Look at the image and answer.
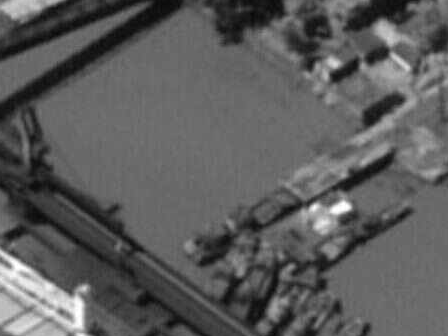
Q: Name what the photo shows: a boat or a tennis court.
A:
boat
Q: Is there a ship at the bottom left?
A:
Yes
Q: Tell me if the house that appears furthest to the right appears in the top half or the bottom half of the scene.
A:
top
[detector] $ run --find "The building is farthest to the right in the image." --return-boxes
[385,38,426,69]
